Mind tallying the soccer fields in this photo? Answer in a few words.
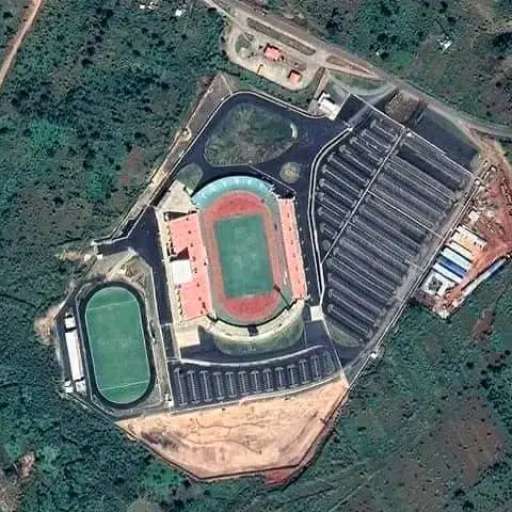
2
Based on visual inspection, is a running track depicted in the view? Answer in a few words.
Yes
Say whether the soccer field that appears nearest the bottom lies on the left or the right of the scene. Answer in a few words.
left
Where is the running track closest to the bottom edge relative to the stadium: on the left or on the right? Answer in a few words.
on its left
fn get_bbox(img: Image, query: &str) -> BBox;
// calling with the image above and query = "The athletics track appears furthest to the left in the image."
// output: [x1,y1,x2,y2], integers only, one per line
[81,280,156,410]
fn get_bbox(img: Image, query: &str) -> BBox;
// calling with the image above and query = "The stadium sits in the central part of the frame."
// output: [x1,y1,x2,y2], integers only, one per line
[157,176,312,354]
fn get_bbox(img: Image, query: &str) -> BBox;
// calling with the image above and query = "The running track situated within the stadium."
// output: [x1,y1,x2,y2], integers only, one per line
[205,191,284,322]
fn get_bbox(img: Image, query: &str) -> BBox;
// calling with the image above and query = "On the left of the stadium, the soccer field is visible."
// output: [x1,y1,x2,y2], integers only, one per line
[87,287,150,403]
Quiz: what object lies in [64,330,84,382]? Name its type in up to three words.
building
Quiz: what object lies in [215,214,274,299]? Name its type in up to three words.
soccer field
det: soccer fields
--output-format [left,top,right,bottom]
[87,287,150,403]
[215,214,274,299]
